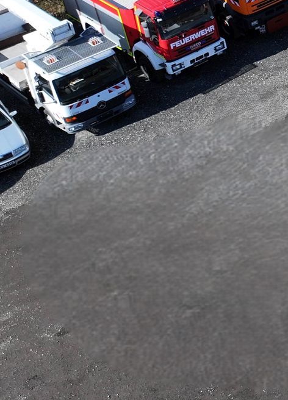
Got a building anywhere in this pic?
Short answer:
No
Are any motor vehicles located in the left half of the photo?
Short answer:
Yes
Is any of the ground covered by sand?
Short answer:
No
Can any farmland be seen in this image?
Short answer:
No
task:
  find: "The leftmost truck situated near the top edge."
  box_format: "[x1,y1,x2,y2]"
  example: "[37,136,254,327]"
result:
[0,0,131,135]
